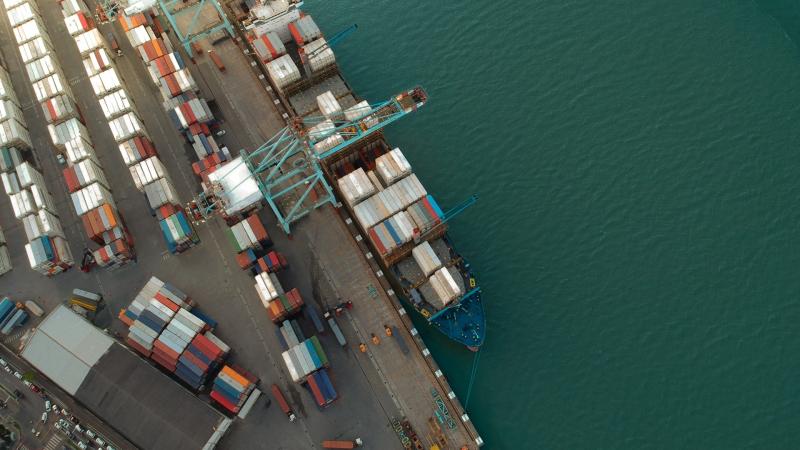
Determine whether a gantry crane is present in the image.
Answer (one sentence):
Yes, you can see a gantry crane in this photo.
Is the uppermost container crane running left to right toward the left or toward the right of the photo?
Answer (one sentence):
The uppermost container crane running left to right appears in the left half of the scene.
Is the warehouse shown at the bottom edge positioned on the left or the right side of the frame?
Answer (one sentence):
It is on the left.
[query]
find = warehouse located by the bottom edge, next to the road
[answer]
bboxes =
[18,303,240,450]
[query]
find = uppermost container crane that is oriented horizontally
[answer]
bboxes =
[87,0,238,59]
